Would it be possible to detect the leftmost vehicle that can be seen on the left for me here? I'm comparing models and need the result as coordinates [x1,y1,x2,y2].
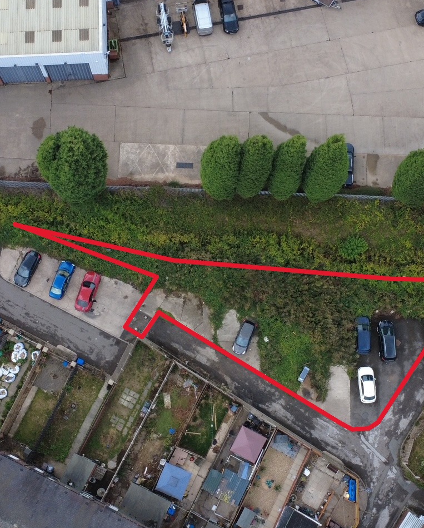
[13,248,40,287]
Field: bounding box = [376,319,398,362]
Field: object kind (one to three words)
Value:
car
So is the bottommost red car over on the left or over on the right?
left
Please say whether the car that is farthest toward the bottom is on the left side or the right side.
right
